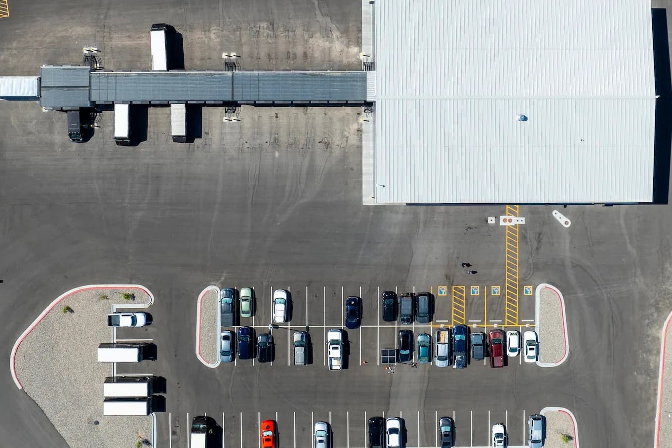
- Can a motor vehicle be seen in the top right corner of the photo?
No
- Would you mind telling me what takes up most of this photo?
paved ground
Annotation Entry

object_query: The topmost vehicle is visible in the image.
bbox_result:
[150,23,169,68]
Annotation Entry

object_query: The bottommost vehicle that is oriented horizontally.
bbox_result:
[103,395,158,417]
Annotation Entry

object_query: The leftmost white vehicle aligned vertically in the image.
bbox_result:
[115,105,133,145]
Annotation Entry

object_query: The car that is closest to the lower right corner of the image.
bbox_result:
[527,415,544,448]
